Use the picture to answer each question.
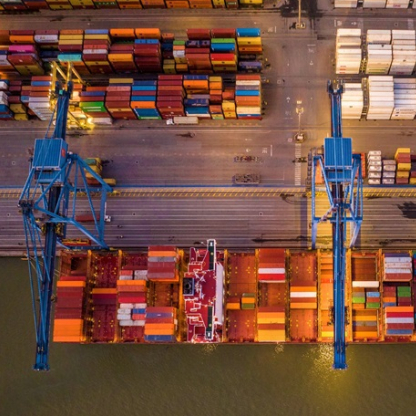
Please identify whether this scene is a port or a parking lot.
port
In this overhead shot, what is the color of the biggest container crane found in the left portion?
blue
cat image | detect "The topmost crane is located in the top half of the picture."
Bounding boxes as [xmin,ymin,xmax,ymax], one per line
[48,57,90,127]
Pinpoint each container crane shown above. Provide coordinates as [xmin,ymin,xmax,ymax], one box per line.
[48,57,90,127]
[300,81,364,370]
[13,79,123,372]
